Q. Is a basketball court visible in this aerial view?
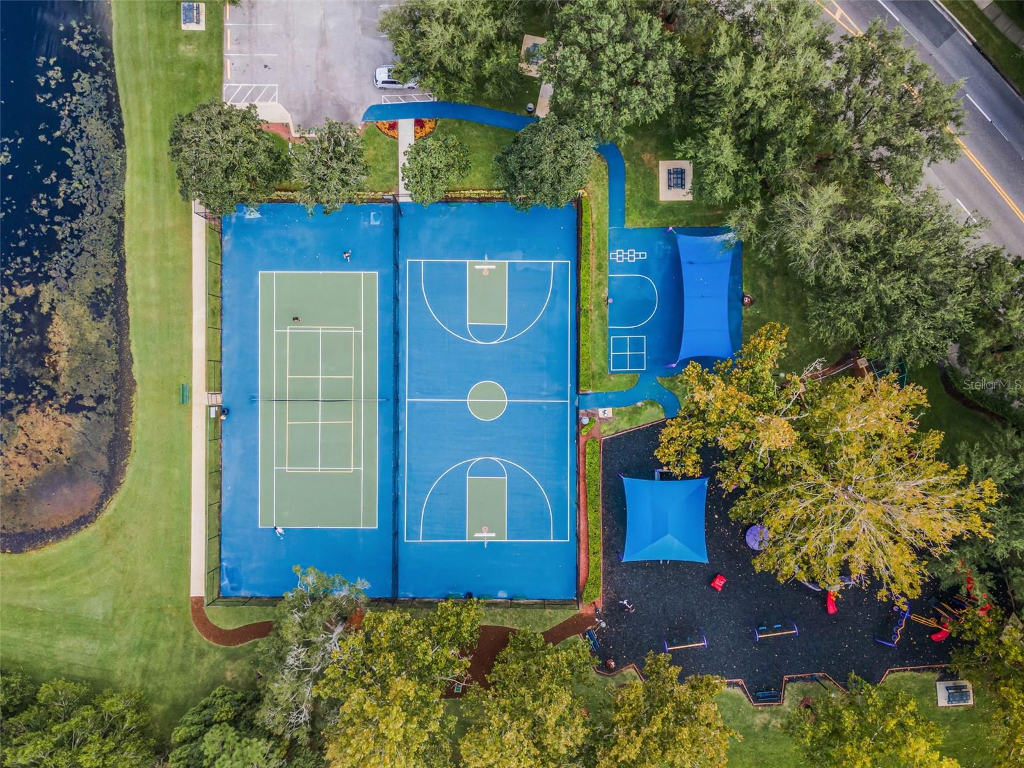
Yes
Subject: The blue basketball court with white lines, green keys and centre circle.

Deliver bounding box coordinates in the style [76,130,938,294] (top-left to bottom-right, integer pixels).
[395,203,577,598]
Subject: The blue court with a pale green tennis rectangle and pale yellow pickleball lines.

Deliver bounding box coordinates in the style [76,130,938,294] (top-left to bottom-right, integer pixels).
[220,203,398,598]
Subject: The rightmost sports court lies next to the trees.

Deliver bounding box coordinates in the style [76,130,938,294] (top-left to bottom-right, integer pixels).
[609,227,742,374]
